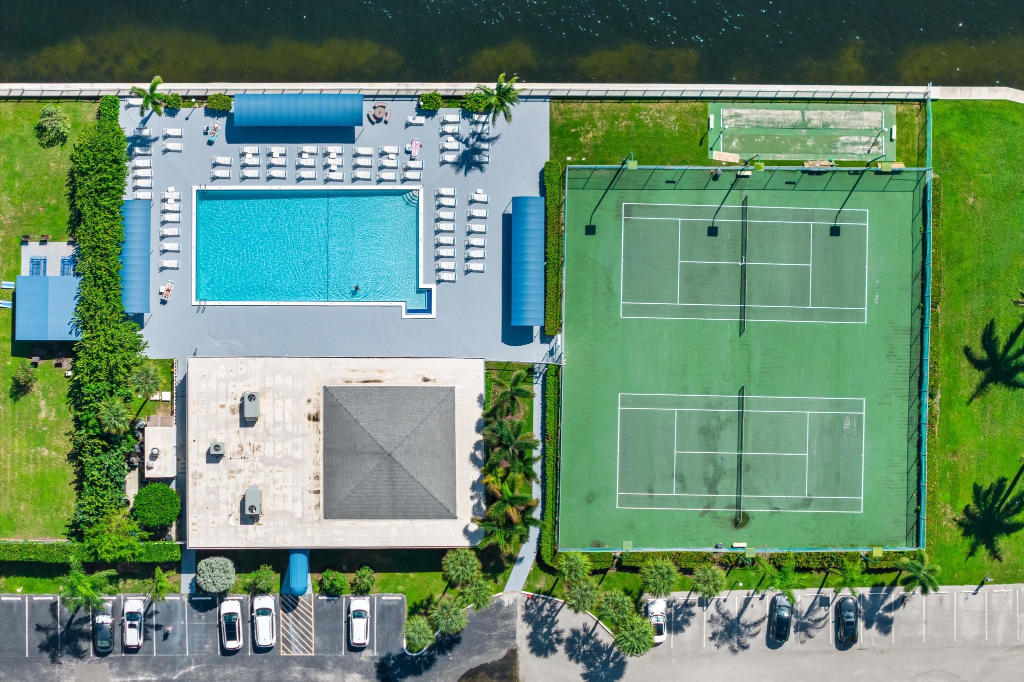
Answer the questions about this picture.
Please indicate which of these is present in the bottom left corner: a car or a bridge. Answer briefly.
car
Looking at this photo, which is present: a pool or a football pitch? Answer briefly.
pool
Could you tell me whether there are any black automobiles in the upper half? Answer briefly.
No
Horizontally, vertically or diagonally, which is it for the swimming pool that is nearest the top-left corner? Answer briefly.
horizontally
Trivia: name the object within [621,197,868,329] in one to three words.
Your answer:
tennis court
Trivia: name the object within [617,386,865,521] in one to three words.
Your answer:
tennis court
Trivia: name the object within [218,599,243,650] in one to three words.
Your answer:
car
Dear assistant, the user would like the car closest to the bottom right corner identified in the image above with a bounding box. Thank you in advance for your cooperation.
[835,595,859,645]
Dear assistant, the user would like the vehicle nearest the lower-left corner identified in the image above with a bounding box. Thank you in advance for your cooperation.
[92,600,116,652]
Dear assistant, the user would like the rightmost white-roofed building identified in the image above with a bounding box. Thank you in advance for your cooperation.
[186,356,486,549]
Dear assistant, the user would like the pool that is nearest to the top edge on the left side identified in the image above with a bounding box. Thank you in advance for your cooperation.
[191,182,436,318]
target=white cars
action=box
[252,594,276,647]
[646,598,669,643]
[218,599,243,650]
[121,597,145,649]
[347,596,371,647]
